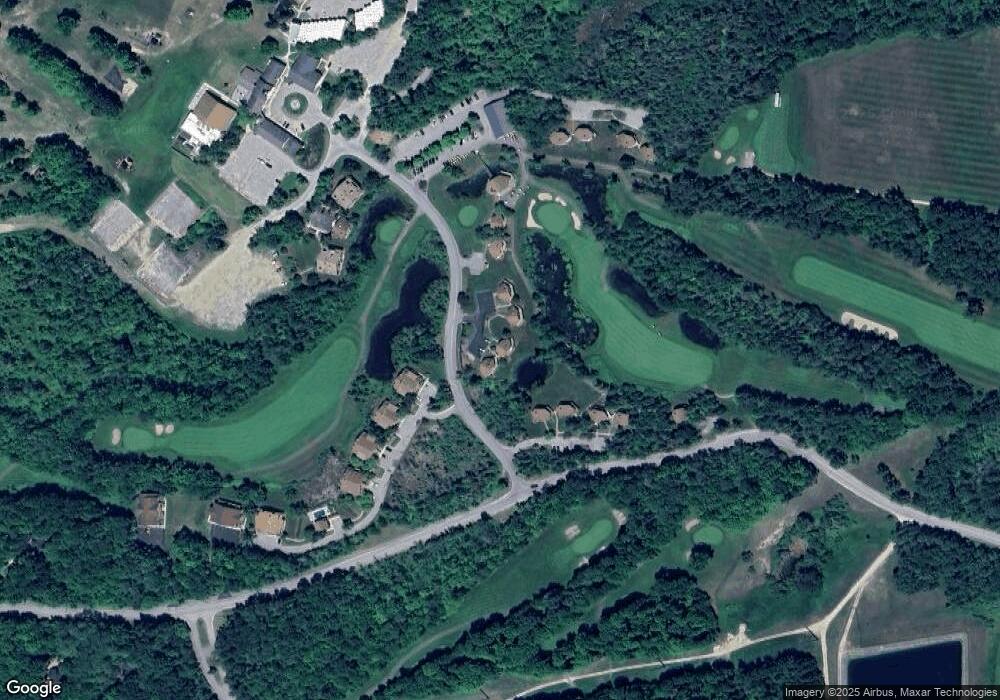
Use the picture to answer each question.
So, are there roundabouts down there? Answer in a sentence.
Yes, the image includes a roundabout.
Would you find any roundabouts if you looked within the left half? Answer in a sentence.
Yes, there is a roundabout within the left half.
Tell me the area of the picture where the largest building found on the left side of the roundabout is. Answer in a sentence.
The largest building found on the left side of the roundabout appears toward the top left of the photo.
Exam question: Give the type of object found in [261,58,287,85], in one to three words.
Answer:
building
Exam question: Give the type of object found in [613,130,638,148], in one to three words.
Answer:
house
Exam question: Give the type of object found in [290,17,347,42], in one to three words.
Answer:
building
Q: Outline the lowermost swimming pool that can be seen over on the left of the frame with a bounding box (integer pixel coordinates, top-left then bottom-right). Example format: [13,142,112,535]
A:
[308,507,330,522]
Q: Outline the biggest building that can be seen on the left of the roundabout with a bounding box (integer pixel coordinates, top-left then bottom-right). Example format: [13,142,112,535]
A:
[172,83,239,157]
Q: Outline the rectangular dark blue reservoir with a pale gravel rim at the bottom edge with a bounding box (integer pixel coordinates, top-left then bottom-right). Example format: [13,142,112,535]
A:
[838,633,969,700]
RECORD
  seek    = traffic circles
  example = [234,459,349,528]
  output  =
[264,81,343,140]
